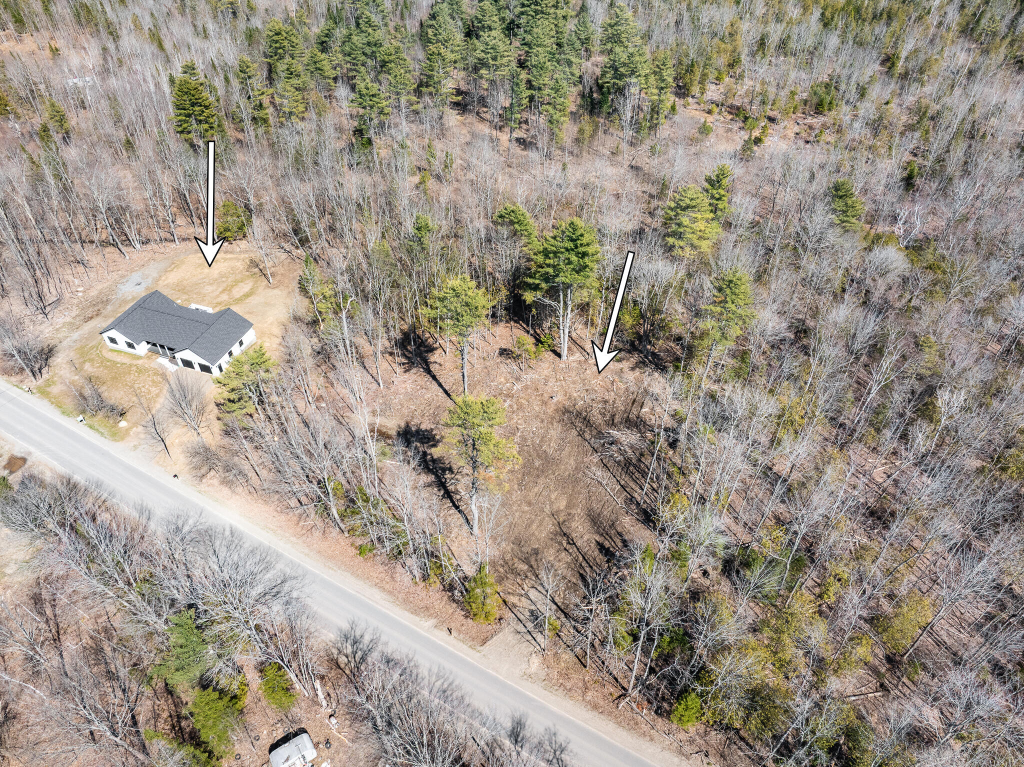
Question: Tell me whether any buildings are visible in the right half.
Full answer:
No, no building is visible in the right half.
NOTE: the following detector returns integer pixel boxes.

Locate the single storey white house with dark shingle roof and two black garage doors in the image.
[100,291,255,377]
